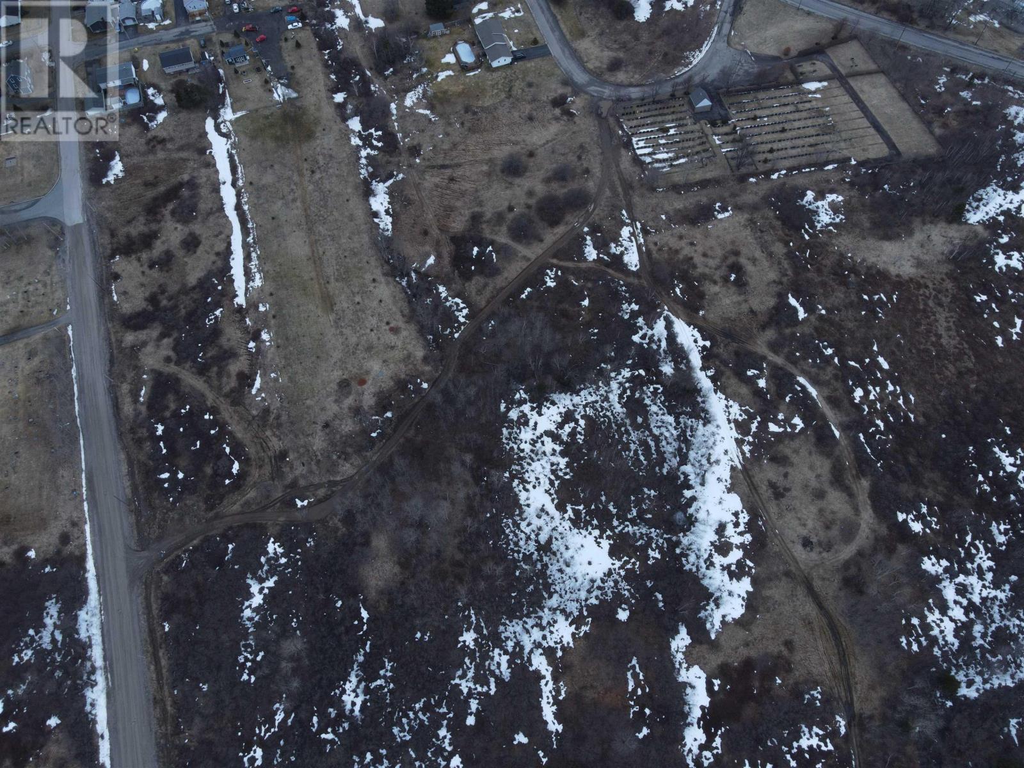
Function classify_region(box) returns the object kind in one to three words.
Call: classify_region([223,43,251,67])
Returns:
house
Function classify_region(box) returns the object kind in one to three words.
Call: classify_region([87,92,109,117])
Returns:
building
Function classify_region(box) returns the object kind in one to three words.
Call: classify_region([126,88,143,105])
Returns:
swimming pool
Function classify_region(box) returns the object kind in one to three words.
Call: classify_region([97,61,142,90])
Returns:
house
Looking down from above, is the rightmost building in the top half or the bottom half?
top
